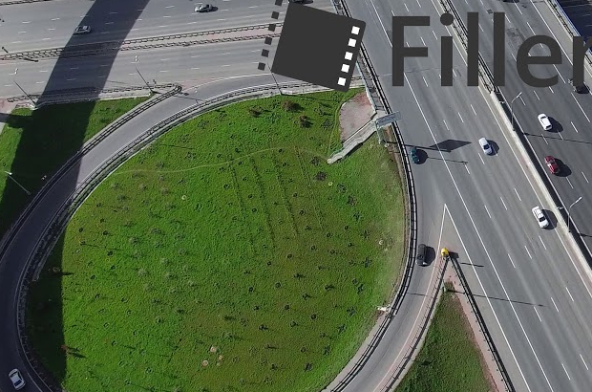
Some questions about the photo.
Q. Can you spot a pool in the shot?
No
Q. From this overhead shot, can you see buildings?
No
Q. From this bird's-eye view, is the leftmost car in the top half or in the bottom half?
bottom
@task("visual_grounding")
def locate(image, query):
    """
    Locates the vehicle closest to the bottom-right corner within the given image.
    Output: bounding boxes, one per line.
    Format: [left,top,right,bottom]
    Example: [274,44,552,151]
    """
[531,206,549,229]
